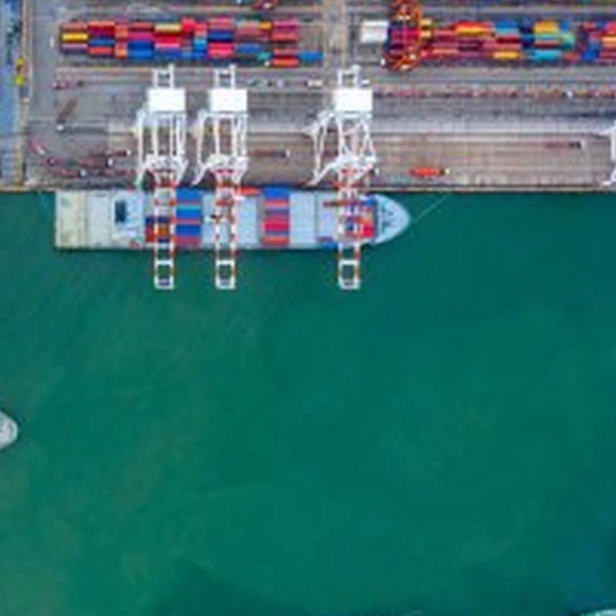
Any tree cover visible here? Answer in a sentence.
No, the picture contains no tree cover.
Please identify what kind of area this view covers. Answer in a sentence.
The area seen from above is a port.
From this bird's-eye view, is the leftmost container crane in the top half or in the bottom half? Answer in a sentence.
Seen from above, the leftmost container crane lies in the top half of the view.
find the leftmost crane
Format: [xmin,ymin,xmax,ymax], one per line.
[130,59,190,288]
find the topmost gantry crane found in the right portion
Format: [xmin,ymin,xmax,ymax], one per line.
[383,0,421,73]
